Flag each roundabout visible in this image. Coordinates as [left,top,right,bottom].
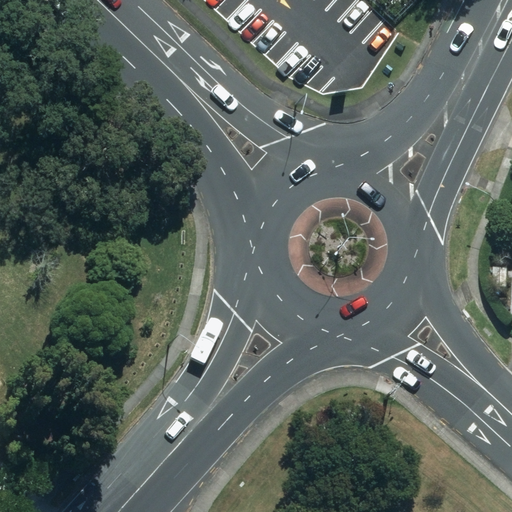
[290,198,387,296]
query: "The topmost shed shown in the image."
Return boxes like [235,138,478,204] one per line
[492,266,508,288]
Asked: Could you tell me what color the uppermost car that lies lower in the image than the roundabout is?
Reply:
red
